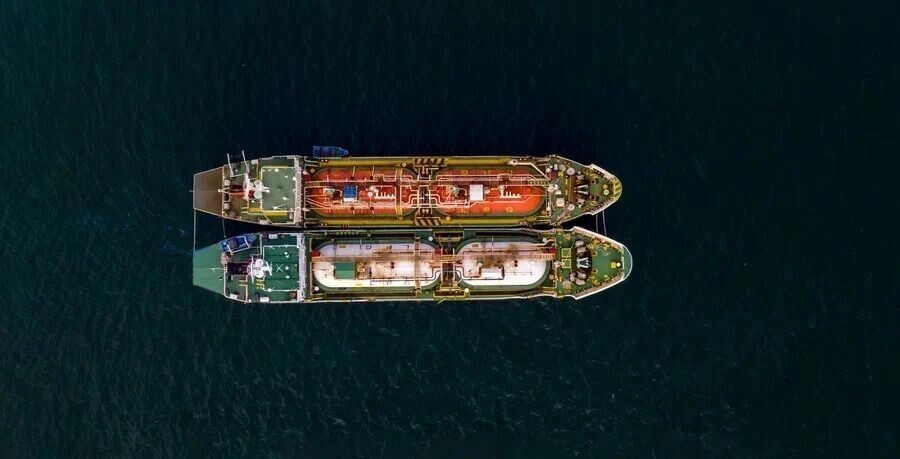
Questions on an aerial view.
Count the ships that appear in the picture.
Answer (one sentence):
In total, there are 2 ships in the scene.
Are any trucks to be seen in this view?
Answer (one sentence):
No, this view has no truck in it.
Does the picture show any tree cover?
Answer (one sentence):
No, there is no tree cover in the image.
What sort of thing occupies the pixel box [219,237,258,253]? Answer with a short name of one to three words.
boat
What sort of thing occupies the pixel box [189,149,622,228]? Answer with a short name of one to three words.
ship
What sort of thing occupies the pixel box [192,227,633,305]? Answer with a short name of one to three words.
ship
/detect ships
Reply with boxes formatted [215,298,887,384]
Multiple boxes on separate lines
[189,149,622,228]
[192,227,633,305]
